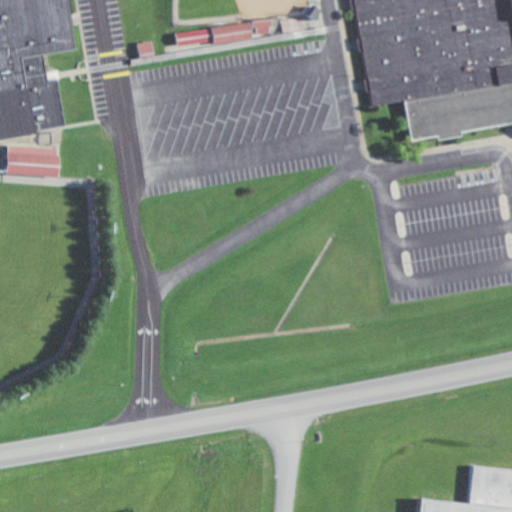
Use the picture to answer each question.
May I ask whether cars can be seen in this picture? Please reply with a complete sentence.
No, no car can be seen from above.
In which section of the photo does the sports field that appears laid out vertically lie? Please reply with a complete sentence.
You can find the sports field that appears laid out vertically in the left area of the picture.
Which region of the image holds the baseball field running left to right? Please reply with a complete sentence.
Look in the top portion of the view to spot the baseball field running left to right.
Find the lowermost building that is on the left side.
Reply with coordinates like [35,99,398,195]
[6,147,60,176]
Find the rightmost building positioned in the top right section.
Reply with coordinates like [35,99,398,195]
[352,0,512,141]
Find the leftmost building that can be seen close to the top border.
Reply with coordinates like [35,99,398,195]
[0,0,76,140]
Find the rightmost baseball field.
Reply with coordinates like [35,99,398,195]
[178,0,308,24]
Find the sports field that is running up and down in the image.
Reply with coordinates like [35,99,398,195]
[0,183,92,381]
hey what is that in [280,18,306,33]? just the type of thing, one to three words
building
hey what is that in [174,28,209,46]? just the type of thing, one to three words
building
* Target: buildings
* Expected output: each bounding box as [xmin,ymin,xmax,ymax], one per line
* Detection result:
[352,0,512,141]
[252,19,270,37]
[6,147,60,176]
[210,22,252,44]
[280,18,306,33]
[136,42,154,56]
[174,28,209,46]
[415,466,512,512]
[0,0,76,140]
